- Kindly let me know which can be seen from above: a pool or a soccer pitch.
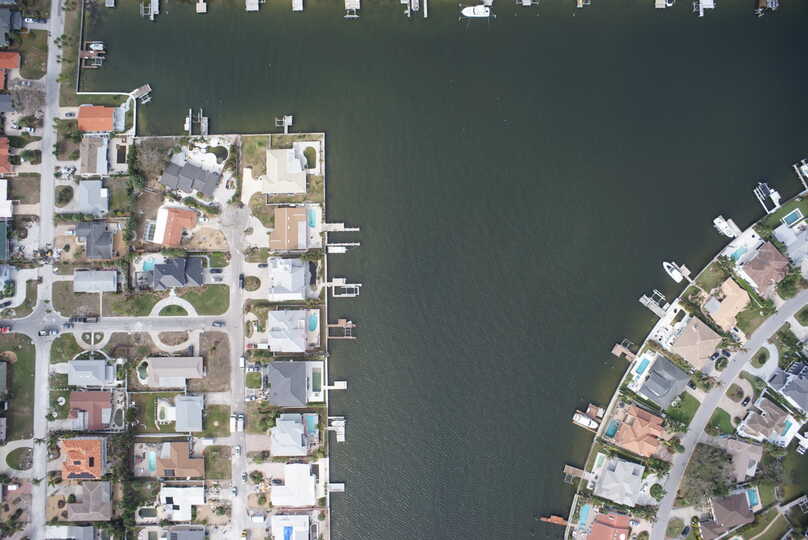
pool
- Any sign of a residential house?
Yes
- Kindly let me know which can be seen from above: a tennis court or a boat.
boat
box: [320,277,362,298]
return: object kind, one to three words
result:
pier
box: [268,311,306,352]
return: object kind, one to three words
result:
house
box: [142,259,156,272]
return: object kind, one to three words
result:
swimming pool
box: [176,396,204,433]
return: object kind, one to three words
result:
house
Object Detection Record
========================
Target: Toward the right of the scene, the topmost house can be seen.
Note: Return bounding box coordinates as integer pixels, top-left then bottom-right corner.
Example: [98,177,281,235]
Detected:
[772,214,808,267]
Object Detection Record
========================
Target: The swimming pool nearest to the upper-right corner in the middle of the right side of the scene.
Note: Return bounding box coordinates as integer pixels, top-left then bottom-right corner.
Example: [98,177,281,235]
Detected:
[784,208,803,226]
